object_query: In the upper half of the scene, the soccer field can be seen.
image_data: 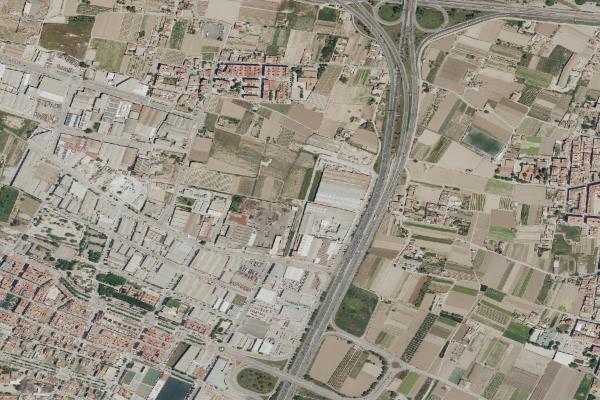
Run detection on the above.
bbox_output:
[463,122,507,158]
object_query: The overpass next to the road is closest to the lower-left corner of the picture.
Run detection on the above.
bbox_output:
[244,354,346,400]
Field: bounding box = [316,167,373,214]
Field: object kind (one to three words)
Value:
building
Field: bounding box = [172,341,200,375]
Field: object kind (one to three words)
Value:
building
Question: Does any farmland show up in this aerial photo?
Yes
